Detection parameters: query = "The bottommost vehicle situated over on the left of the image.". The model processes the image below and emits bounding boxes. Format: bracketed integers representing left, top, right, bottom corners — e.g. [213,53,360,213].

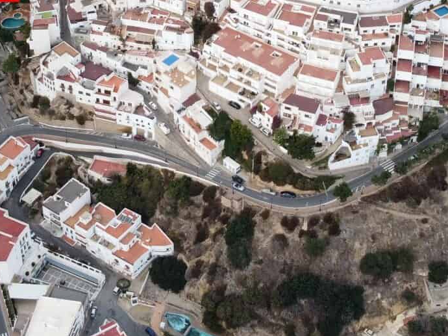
[144,323,157,336]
